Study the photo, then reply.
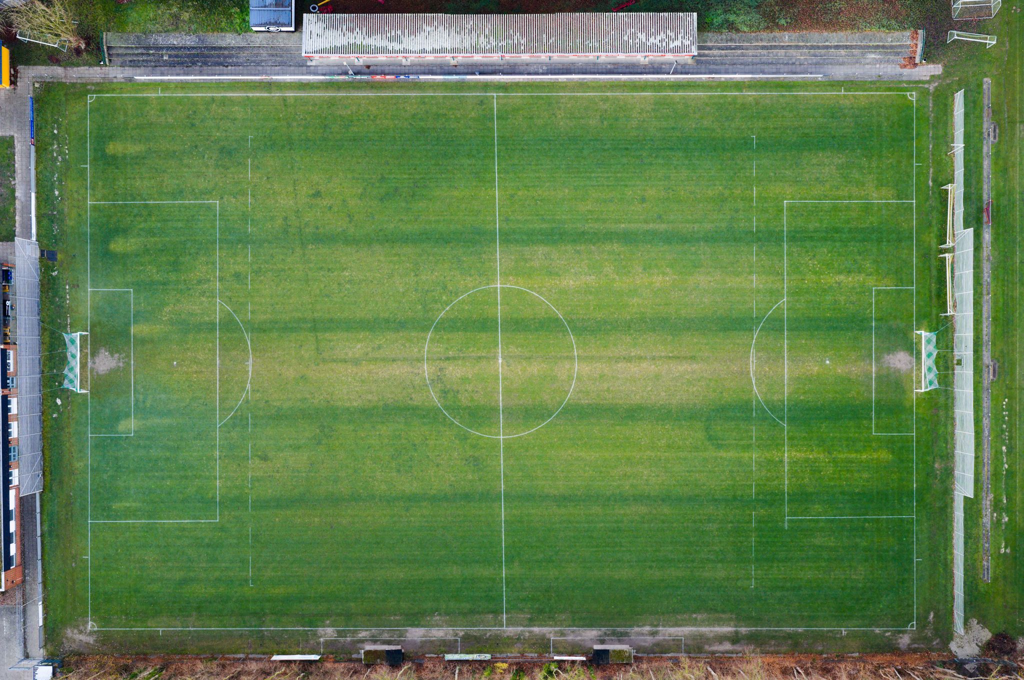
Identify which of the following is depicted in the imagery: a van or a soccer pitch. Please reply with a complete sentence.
The image shows a soccer pitch.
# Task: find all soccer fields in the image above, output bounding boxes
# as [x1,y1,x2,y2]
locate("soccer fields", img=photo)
[81,87,921,654]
